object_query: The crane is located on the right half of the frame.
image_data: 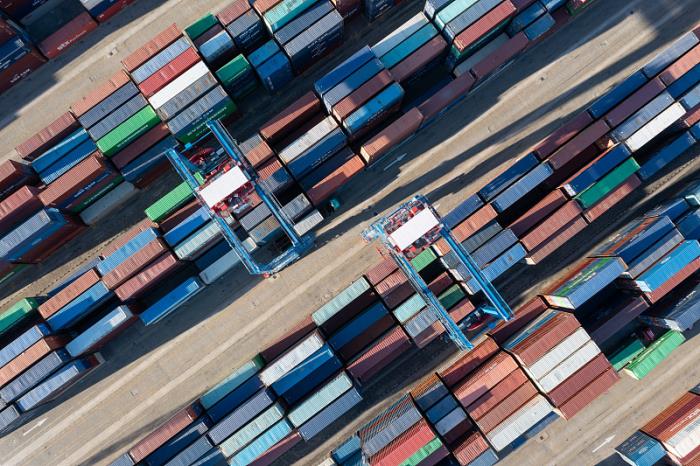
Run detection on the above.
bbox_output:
[351,189,522,357]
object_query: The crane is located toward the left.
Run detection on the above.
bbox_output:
[159,116,329,282]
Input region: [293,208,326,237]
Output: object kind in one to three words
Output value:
shipping container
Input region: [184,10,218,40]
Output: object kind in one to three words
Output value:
shipping container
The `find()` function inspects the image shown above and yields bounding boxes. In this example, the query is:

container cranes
[351,189,522,357]
[159,116,329,282]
